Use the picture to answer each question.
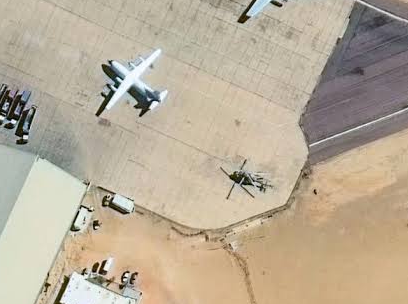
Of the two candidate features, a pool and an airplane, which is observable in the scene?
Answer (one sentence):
Of the two, only an airplane appears.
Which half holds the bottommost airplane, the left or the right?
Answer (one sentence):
It is on the left.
